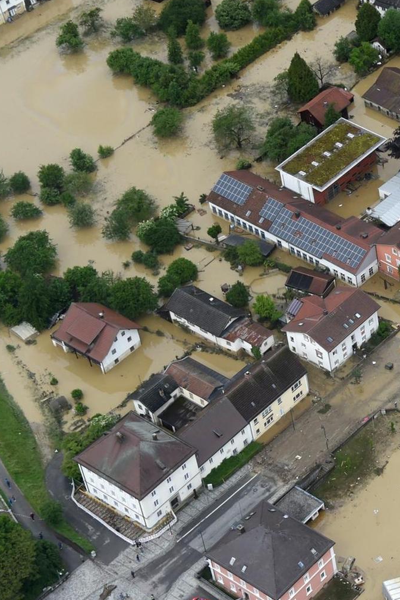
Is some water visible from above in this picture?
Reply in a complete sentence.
Yes, some water is visible.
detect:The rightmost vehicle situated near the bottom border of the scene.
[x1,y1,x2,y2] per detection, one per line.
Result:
[342,557,358,573]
